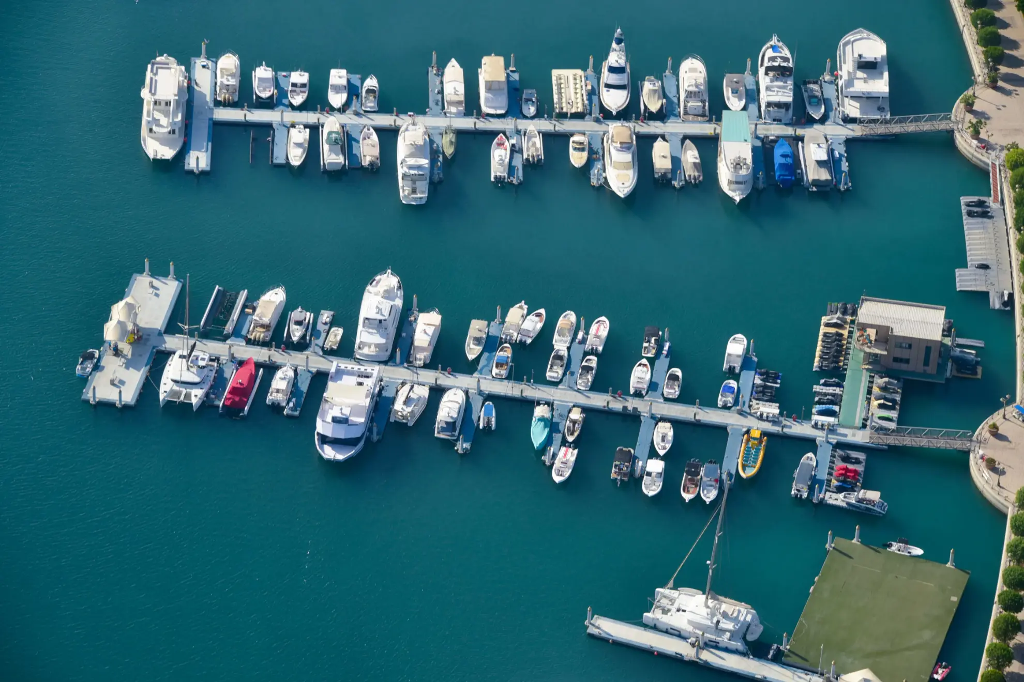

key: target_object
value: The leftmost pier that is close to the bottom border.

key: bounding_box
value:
[587,615,696,663]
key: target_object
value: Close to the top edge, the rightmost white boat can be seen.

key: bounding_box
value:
[836,26,888,123]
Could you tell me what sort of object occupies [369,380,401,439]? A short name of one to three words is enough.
pier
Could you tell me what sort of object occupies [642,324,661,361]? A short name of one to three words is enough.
boat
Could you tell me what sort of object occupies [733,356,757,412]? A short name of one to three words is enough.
pier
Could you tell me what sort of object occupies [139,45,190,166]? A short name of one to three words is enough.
vessel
